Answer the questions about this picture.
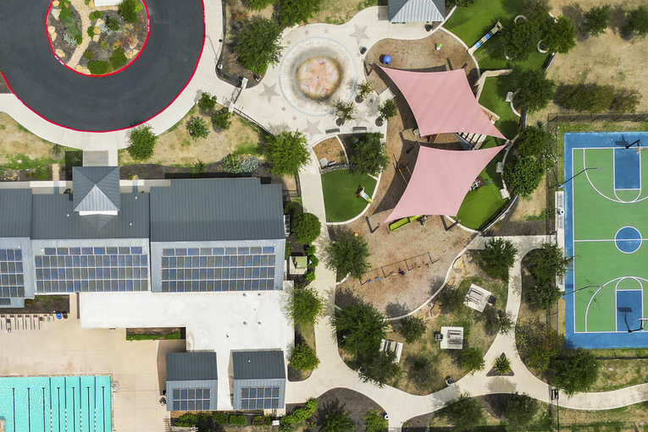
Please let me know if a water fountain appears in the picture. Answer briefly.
Yes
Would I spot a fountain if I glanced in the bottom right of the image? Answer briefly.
No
